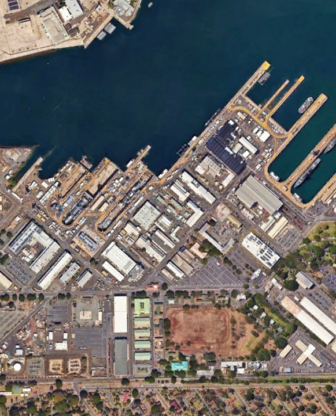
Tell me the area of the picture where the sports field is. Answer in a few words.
bottom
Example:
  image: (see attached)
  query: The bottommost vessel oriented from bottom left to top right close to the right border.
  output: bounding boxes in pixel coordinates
[294,158,320,188]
